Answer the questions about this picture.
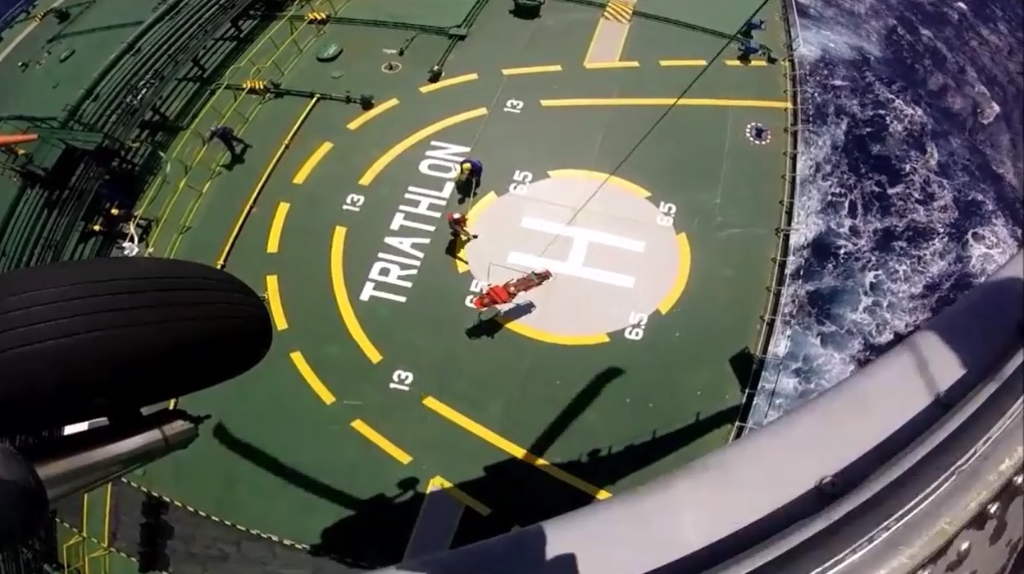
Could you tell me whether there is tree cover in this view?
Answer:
No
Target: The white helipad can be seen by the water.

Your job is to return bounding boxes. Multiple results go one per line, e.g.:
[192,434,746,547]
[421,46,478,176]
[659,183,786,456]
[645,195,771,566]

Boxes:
[266,0,792,569]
